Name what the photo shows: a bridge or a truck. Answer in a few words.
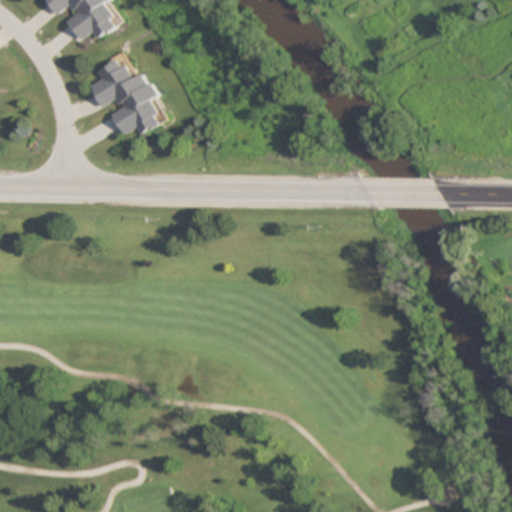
bridge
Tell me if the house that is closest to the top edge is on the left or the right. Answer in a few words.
left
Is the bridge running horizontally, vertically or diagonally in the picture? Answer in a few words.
horizontally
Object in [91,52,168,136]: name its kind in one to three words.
house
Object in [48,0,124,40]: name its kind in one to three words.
house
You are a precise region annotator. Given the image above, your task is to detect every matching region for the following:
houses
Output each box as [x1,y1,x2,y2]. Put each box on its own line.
[91,52,168,136]
[48,0,124,40]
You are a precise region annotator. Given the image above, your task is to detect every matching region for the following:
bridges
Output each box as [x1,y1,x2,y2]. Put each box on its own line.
[354,170,456,216]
